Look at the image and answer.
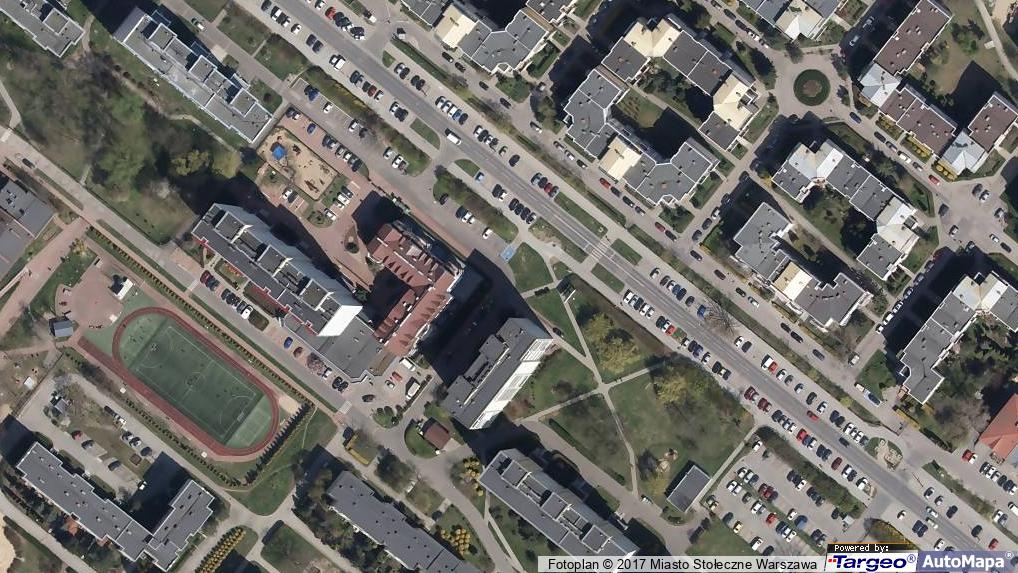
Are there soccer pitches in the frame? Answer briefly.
Yes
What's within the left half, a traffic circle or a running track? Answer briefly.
running track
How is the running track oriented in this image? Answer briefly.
diagonally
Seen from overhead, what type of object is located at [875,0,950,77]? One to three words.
building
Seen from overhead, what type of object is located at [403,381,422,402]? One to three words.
vehicle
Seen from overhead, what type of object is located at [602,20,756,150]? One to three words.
building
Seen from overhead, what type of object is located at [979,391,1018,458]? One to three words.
house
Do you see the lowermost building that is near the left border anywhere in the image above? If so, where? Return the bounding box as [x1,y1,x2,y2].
[16,440,223,571]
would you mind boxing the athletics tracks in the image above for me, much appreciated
[76,307,280,457]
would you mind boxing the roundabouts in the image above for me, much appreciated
[793,69,829,105]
